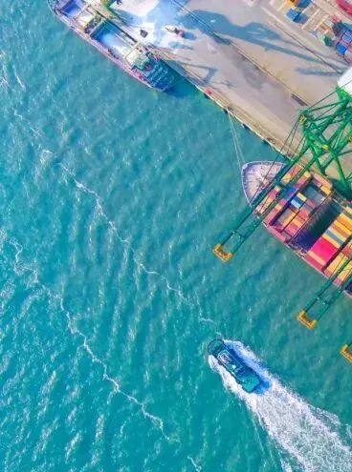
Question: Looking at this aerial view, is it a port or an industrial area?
port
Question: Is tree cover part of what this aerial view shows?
No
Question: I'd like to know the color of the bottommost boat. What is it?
blue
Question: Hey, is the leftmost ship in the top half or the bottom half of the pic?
top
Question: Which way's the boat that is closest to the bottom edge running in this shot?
on a diagonal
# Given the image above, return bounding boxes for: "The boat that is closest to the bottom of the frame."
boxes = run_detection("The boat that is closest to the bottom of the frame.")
[207,341,260,389]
